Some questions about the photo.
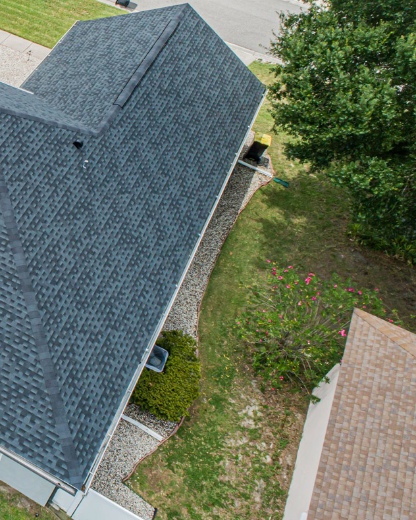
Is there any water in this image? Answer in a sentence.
No, the scene doesn't show any water.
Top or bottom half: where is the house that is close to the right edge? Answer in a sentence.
You can find the house that is close to the right edge in the bottom half.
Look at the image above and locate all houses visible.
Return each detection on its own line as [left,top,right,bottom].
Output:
[0,2,270,506]
[282,307,416,520]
